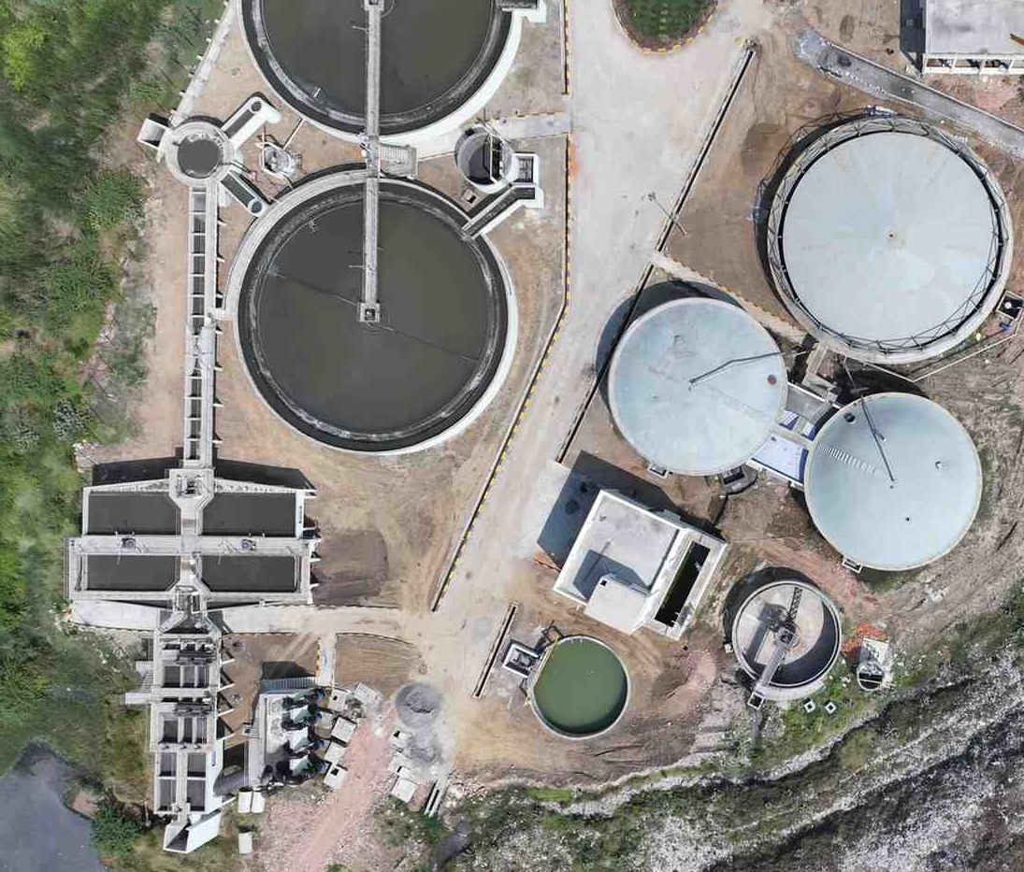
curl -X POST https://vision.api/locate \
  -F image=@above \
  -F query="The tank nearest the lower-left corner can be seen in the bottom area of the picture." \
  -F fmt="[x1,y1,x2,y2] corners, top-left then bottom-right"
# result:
[61,468,319,602]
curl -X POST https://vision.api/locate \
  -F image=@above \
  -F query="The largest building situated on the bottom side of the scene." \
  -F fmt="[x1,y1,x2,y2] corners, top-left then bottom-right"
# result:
[550,487,729,641]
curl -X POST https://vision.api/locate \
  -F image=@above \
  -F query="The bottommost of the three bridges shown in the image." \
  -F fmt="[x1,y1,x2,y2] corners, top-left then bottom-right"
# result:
[752,636,790,694]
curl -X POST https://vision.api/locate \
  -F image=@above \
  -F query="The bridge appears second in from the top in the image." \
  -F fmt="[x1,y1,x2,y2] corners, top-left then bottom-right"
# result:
[359,160,378,305]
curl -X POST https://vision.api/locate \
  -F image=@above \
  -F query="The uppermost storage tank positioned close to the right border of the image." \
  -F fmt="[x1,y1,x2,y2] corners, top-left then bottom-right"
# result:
[769,113,1012,363]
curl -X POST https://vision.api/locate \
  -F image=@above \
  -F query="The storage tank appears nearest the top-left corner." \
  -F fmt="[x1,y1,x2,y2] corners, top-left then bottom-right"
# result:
[164,96,283,219]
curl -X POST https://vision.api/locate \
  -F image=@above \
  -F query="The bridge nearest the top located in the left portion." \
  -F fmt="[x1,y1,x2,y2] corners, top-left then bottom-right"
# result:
[362,4,382,141]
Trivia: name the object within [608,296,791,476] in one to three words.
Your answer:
storage tank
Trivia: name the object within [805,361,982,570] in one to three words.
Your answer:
storage tank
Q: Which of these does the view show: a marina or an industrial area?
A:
industrial area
